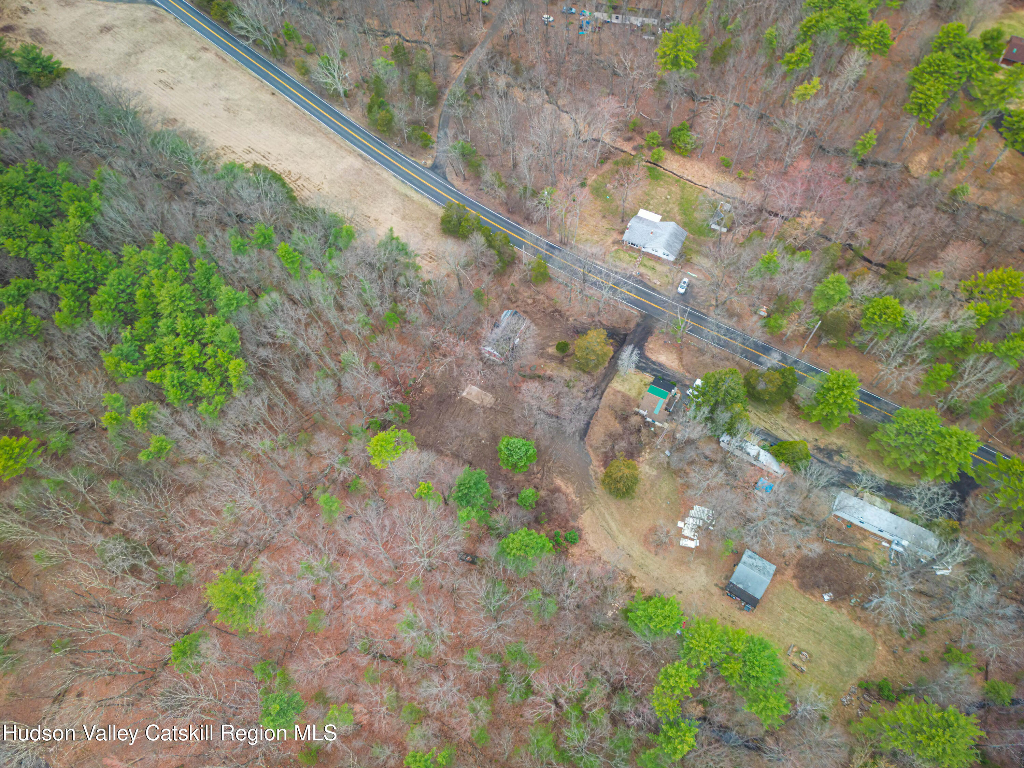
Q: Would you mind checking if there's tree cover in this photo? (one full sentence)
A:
Yes, the picture does contain tree cover.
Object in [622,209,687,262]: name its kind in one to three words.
house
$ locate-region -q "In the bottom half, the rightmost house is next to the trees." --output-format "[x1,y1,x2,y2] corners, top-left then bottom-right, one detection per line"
[833,492,940,557]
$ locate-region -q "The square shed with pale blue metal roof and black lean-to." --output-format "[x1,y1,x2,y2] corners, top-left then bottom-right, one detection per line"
[722,549,776,608]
